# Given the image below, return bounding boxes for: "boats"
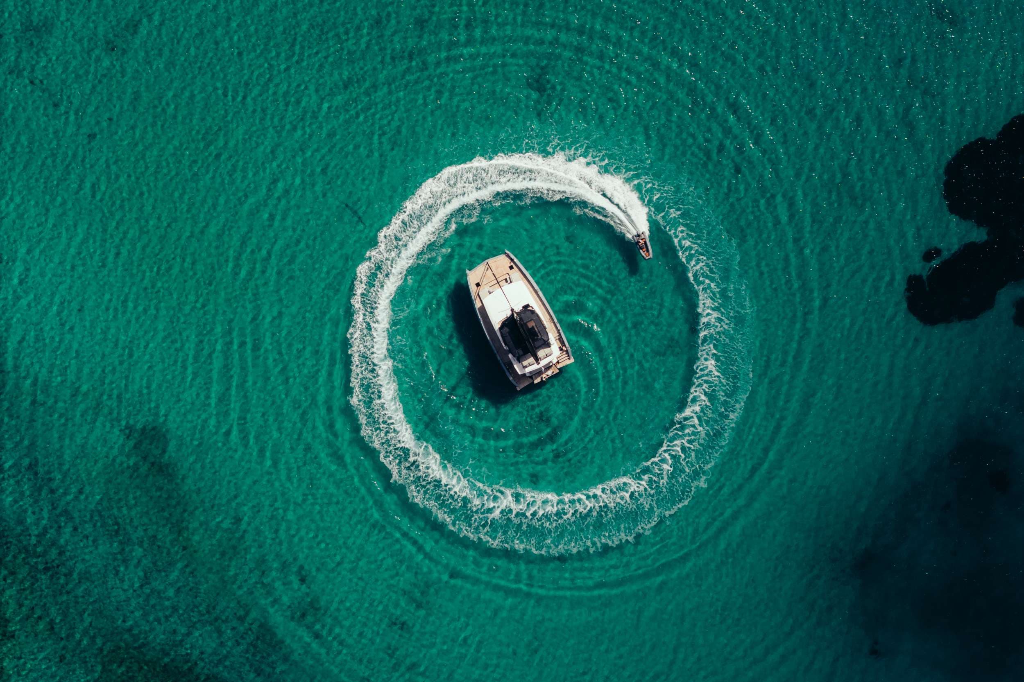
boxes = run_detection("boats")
[633,231,653,260]
[466,249,574,389]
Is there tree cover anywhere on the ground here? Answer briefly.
No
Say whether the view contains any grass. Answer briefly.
No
